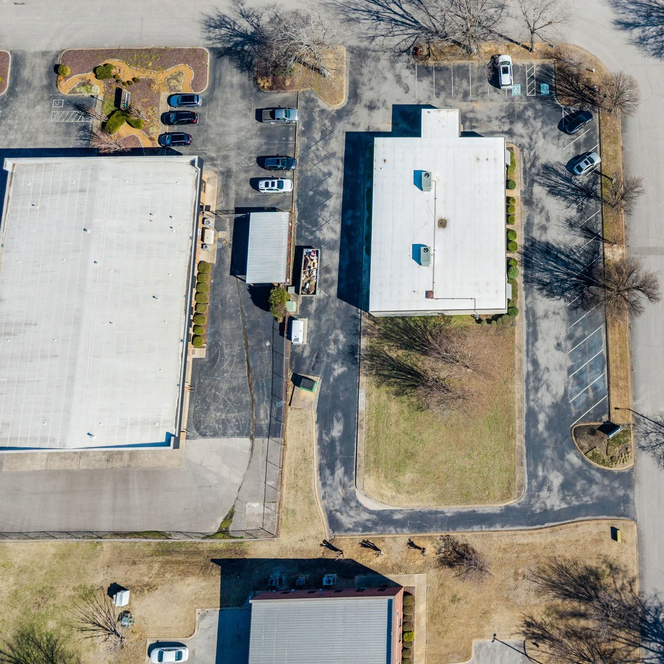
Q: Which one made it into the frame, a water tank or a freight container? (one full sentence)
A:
Visible in the photo is a freight container.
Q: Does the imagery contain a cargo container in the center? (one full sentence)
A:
Yes, looking in the center, one can make out a cargo container.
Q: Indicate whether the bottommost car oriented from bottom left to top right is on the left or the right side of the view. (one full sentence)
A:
You can find the bottommost car oriented from bottom left to top right on the right side of the picture.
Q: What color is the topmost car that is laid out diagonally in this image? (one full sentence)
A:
The topmost car that is laid out diagonally looks black in the image.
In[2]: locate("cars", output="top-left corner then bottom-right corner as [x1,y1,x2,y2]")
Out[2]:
[163,110,198,126]
[257,177,295,193]
[564,111,594,136]
[498,57,513,89]
[264,155,298,171]
[572,153,601,177]
[168,92,203,109]
[158,131,193,147]
[151,645,190,664]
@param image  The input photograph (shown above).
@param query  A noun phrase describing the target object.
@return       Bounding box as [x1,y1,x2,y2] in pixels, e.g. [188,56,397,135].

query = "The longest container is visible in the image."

[299,248,325,298]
